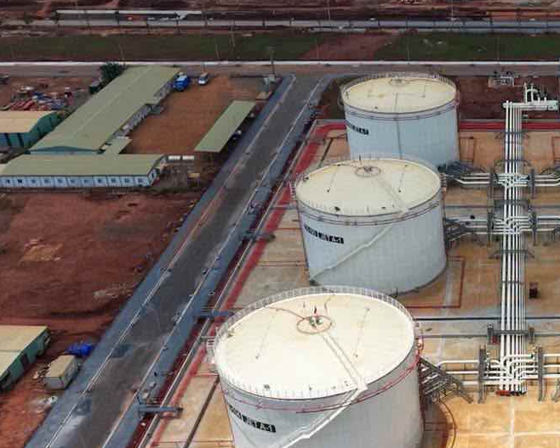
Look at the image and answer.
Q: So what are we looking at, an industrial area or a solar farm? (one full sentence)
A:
This image shows an industrial area.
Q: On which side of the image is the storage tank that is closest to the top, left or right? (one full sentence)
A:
The storage tank that is closest to the top appears in the right half of the scene.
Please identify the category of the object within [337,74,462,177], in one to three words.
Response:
storage tank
